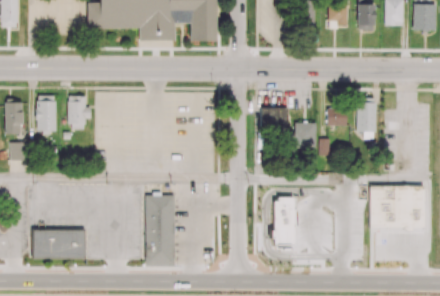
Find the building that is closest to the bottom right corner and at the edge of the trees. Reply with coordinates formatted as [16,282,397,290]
[370,185,422,228]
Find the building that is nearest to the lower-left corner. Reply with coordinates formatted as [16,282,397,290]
[32,229,84,259]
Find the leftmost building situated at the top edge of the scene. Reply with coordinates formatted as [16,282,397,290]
[0,0,18,28]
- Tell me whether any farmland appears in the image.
No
